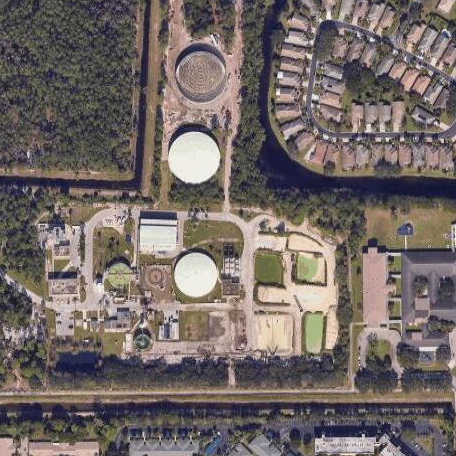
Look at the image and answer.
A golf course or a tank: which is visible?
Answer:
tank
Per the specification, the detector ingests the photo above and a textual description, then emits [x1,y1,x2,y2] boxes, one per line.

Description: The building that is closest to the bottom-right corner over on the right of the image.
[375,435,407,456]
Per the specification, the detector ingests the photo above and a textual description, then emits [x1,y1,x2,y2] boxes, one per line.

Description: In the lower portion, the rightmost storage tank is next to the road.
[174,253,218,297]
